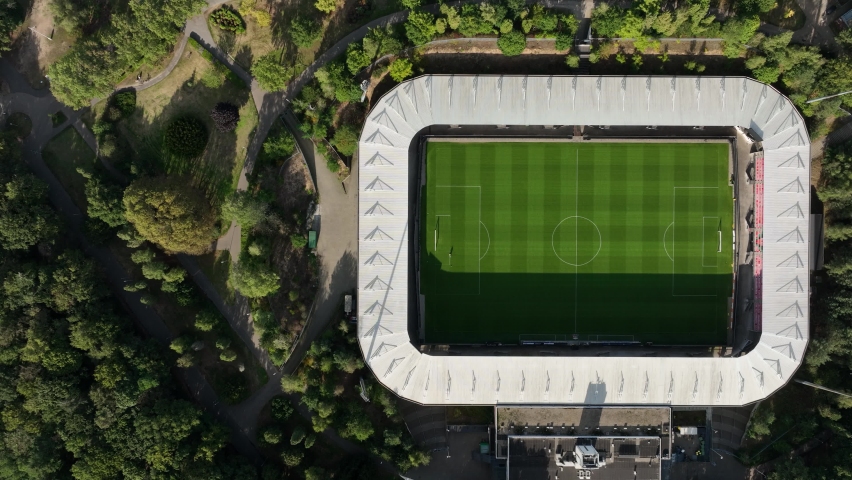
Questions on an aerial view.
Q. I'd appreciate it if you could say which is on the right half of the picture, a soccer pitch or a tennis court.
soccer pitch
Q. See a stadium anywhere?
Yes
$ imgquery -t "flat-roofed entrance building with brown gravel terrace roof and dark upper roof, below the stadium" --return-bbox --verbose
[493,408,672,480]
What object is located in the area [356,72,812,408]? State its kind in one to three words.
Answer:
stadium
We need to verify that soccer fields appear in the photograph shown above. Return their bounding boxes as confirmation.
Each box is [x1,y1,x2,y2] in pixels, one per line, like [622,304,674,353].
[420,138,733,346]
